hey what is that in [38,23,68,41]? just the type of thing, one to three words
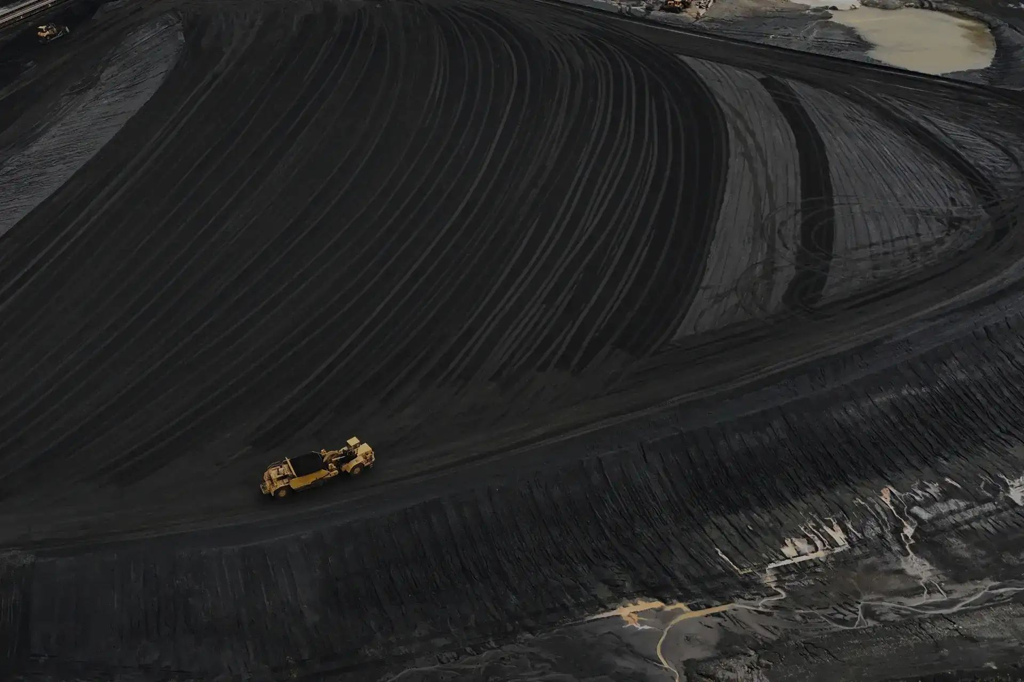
work vehicle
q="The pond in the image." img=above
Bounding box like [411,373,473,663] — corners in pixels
[796,0,1000,77]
